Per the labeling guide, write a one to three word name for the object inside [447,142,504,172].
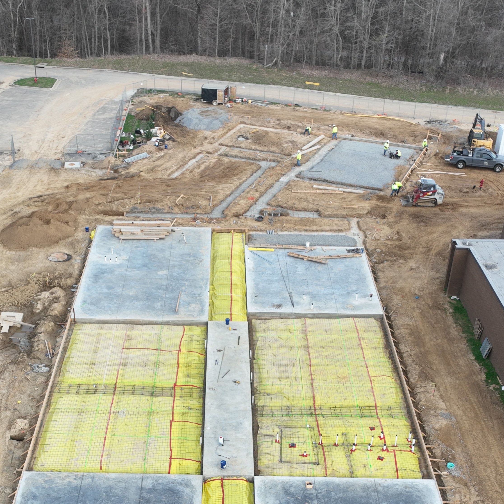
truck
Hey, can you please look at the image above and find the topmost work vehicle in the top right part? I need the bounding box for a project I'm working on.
[463,98,491,146]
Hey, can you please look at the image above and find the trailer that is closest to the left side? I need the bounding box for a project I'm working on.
[195,78,233,103]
